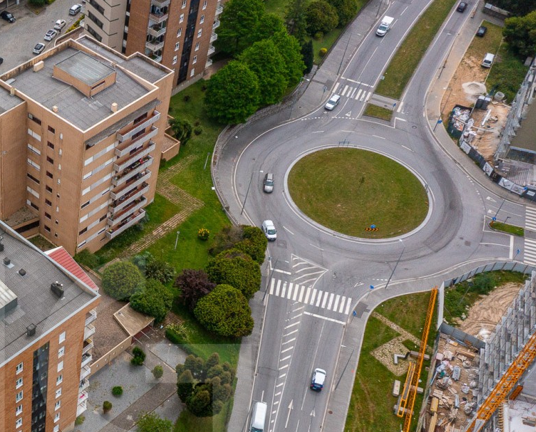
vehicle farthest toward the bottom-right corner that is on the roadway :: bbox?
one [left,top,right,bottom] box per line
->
[310,368,328,392]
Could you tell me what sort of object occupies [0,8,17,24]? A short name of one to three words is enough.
car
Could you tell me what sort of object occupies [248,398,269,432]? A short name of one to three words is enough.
vehicle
